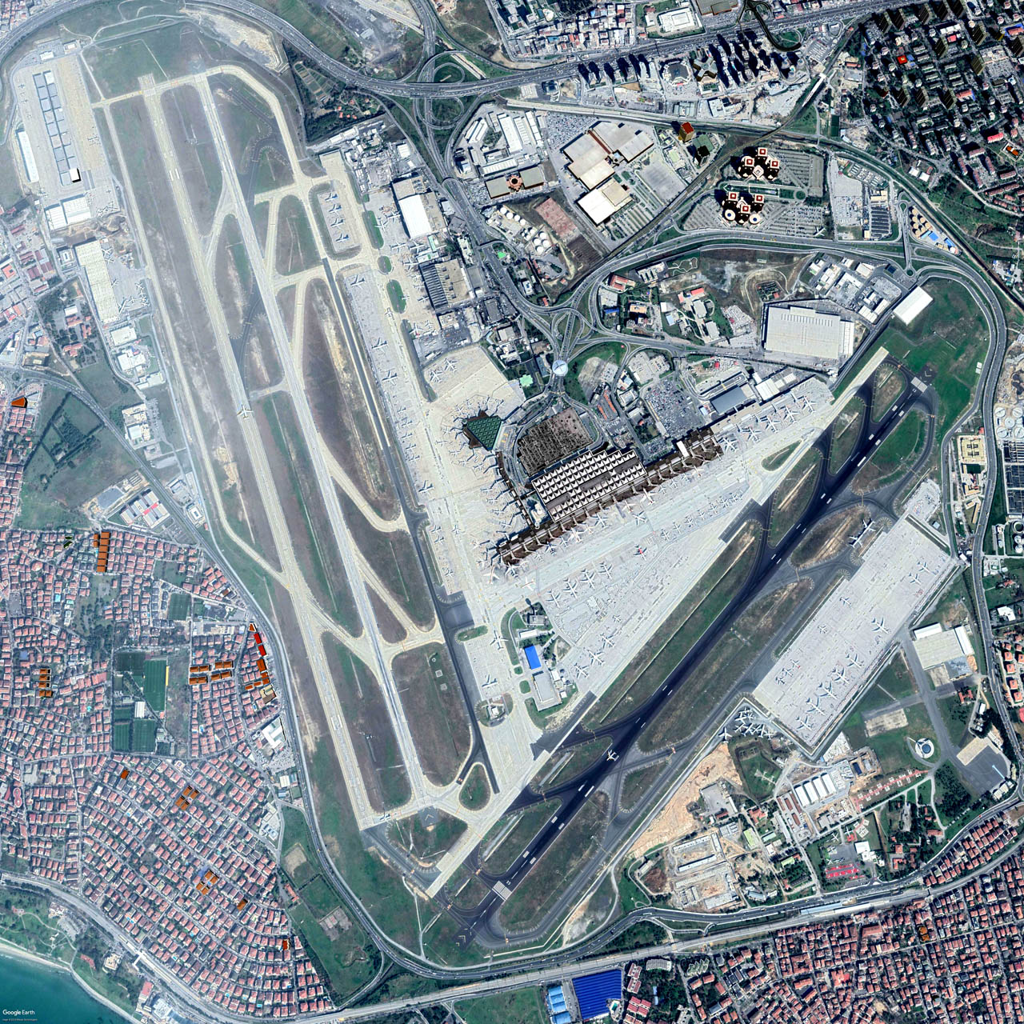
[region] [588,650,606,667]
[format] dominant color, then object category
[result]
white airplane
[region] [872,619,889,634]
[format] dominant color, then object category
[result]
white airplane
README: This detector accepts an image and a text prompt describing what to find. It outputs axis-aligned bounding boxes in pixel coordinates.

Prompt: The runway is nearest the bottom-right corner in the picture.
[491,375,929,900]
